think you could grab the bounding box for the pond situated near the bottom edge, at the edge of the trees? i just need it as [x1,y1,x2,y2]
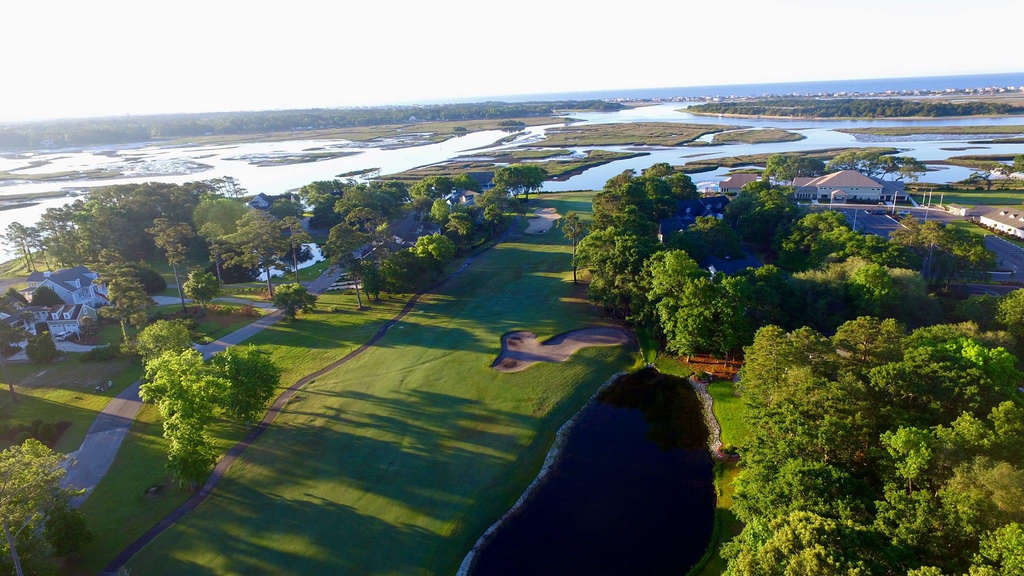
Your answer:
[466,368,721,576]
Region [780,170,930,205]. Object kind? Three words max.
building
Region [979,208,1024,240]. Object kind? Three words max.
building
